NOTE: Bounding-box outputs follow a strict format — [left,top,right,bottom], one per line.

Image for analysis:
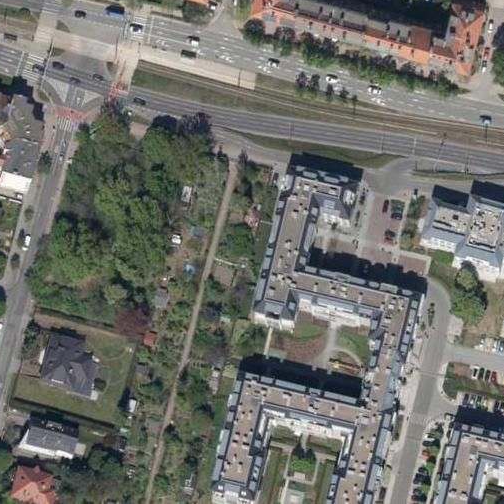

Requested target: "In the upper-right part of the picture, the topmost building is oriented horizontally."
[252,0,487,87]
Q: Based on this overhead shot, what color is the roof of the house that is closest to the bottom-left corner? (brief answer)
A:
red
